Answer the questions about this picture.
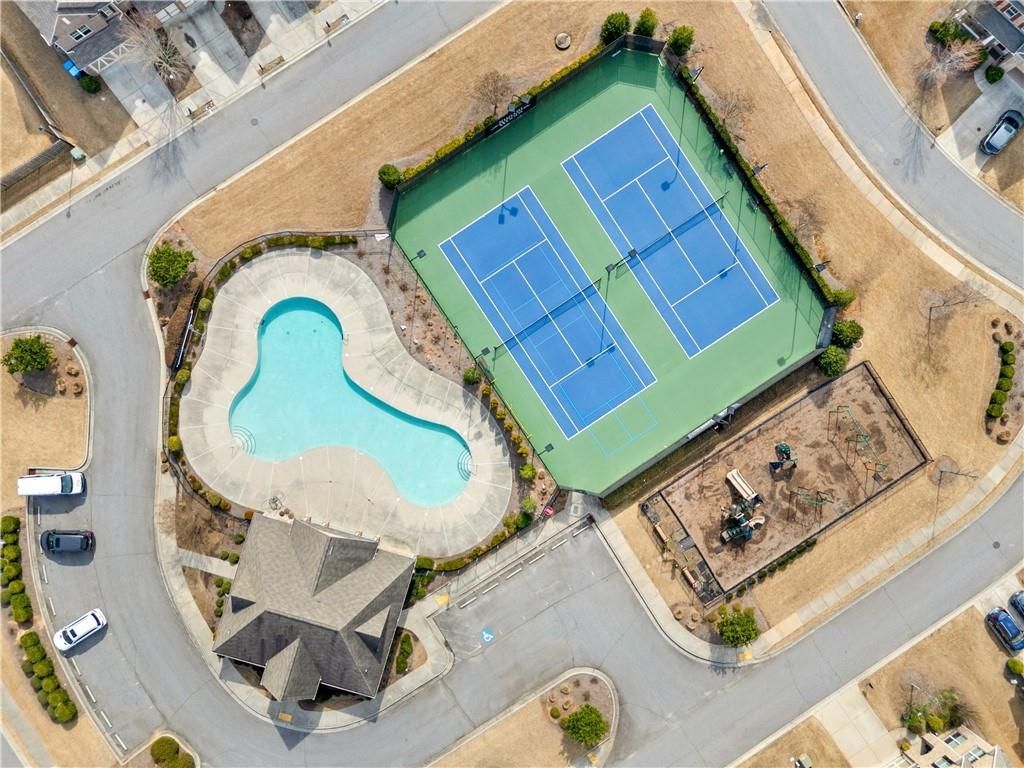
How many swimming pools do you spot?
1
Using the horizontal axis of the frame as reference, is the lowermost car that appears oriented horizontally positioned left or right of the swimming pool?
to the left of it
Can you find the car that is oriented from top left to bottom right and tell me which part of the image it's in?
bottom right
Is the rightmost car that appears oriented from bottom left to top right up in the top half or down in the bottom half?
top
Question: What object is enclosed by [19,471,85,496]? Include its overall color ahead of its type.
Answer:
white vehicle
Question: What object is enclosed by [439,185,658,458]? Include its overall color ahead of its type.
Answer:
blue tennis court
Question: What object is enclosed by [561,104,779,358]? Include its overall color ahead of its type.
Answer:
blue tennis court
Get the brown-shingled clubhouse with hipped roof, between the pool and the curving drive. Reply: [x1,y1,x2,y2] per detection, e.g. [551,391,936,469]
[213,512,418,702]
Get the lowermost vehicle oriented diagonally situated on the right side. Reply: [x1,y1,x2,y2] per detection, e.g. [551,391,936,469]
[983,604,1024,654]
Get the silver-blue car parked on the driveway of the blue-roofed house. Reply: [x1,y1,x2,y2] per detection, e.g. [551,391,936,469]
[979,107,1024,156]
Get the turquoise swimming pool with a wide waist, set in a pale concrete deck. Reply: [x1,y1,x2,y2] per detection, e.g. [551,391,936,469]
[179,247,512,568]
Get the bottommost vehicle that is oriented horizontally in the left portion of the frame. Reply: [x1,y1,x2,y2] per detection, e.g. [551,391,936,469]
[41,528,94,552]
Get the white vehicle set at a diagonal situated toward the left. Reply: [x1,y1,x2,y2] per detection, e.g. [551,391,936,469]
[52,607,108,650]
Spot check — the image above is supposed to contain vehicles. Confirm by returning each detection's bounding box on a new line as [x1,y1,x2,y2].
[41,528,94,552]
[979,107,1024,156]
[19,471,85,496]
[1009,590,1024,622]
[52,607,108,650]
[983,604,1024,654]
